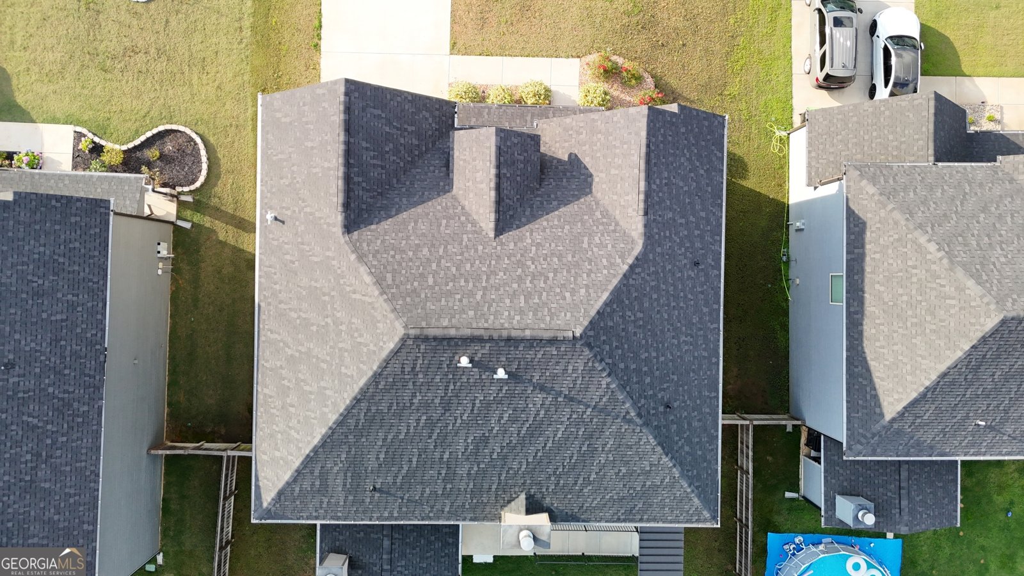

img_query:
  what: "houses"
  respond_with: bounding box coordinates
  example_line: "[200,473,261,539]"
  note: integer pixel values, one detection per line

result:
[251,76,728,576]
[0,163,185,576]
[787,92,1024,536]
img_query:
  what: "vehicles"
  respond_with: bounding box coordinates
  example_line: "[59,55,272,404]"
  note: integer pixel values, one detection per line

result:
[802,0,866,92]
[866,5,928,101]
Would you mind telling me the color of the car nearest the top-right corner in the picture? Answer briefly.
white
